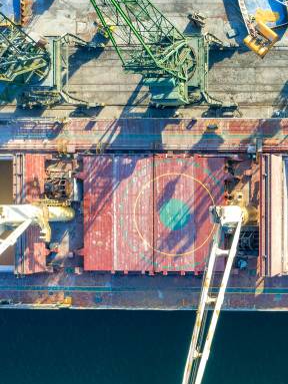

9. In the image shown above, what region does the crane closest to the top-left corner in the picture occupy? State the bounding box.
[0,5,105,126]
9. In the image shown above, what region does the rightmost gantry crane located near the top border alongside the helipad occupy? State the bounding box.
[94,0,239,110]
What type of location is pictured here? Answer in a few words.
port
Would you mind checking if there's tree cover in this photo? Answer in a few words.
No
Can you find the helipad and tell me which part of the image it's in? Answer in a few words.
center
